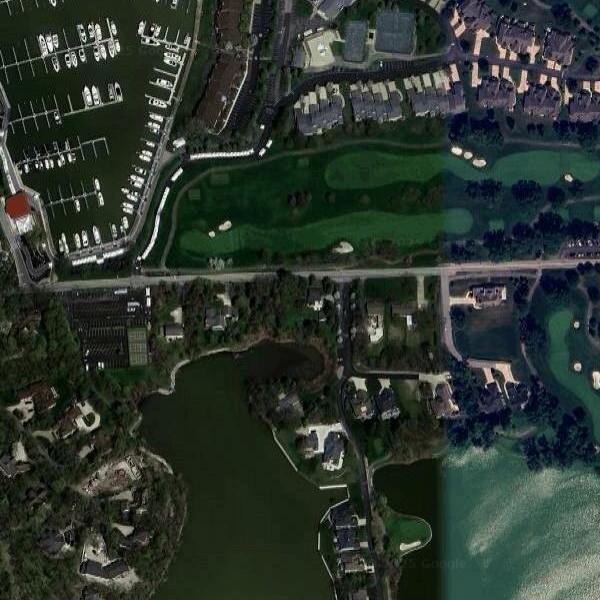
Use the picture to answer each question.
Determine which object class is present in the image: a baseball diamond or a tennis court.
tennis court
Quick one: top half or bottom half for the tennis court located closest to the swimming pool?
top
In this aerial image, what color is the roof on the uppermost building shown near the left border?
red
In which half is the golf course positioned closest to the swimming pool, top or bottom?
top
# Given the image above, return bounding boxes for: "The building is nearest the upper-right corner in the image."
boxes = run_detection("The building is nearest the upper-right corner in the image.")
[542,29,578,64]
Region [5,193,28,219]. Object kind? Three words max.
building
